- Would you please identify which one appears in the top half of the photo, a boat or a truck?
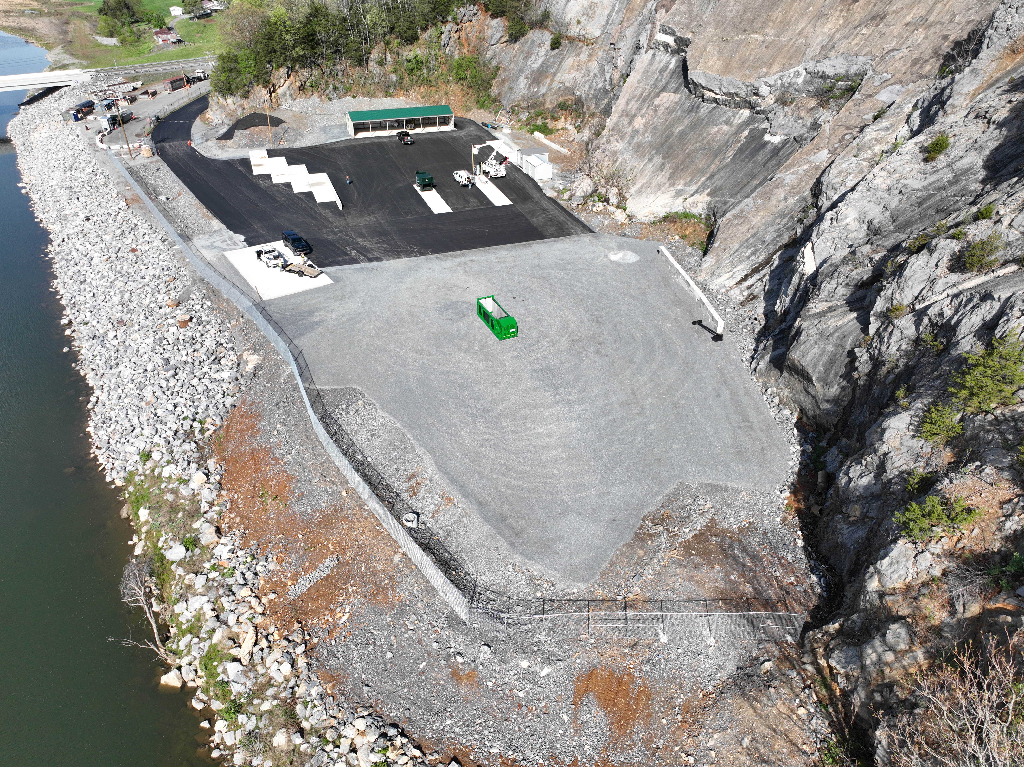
truck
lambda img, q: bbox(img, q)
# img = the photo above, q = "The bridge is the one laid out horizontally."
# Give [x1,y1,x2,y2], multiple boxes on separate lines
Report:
[0,69,90,96]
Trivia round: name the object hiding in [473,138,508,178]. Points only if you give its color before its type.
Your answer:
white truck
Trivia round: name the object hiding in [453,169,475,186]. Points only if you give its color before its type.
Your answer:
white vehicle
